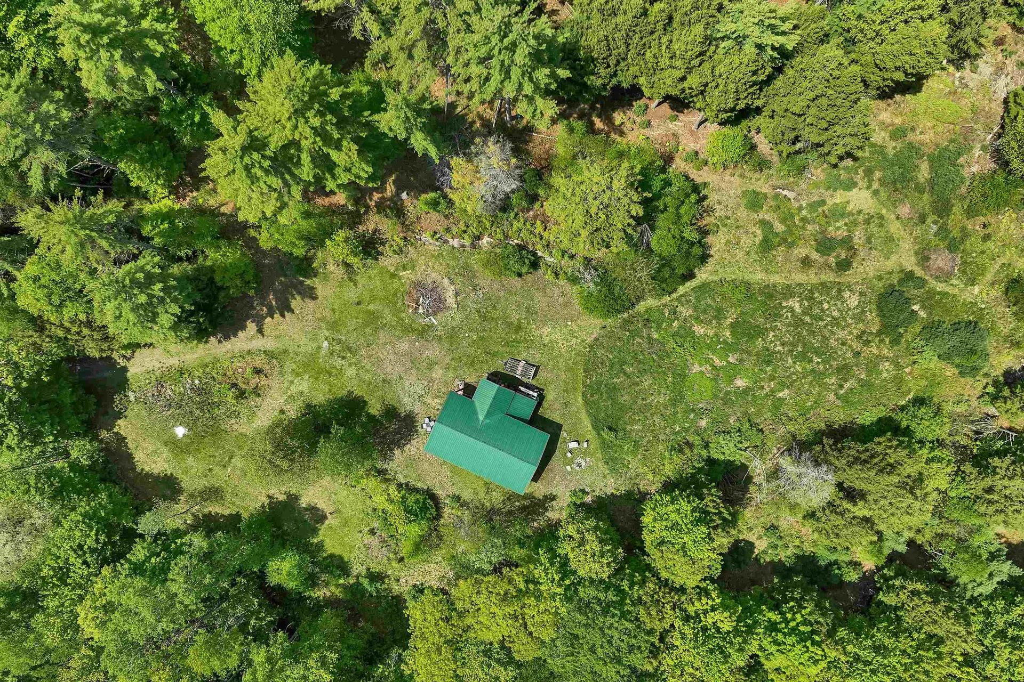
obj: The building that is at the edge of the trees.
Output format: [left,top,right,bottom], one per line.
[423,367,550,496]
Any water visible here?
No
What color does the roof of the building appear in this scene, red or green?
green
